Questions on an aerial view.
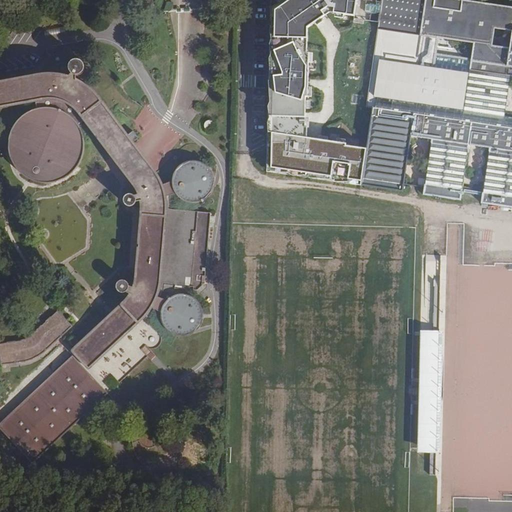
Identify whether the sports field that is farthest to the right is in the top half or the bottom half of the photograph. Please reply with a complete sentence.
It is in the bottom half that the sports field that is farthest to the right appears.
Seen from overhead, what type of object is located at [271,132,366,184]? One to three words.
building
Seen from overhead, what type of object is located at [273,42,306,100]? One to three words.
building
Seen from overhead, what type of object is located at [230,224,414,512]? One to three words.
soccer field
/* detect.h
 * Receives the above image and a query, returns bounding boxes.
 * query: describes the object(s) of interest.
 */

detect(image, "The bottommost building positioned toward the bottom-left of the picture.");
[0,357,106,458]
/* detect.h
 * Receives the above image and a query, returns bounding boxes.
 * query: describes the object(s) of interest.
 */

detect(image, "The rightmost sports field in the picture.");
[444,224,512,512]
